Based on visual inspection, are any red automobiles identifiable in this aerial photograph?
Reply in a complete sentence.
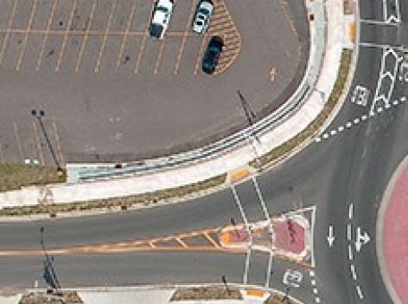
No, there is no red automobile in the image.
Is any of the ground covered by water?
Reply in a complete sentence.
No, no water is visible.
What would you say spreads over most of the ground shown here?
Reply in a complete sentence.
The bulk of the photo consists of paved ground.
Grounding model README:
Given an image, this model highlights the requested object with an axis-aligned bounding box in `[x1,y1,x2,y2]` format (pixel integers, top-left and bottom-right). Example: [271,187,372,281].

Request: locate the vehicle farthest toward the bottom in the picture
[202,37,223,72]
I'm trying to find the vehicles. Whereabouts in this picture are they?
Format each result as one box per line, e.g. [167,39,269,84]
[149,0,174,39]
[191,0,214,35]
[202,37,223,72]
